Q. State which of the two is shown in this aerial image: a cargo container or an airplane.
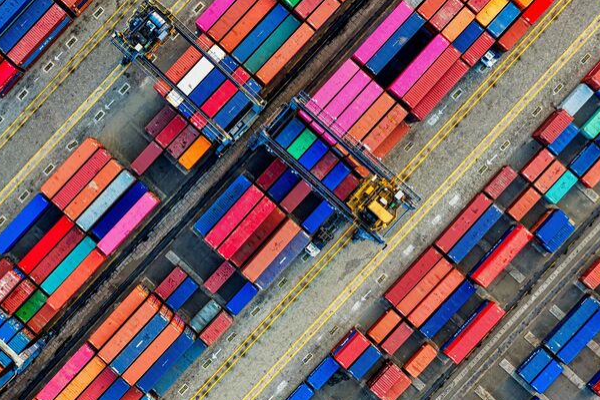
cargo container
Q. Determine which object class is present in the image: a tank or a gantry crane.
gantry crane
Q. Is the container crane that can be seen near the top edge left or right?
left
